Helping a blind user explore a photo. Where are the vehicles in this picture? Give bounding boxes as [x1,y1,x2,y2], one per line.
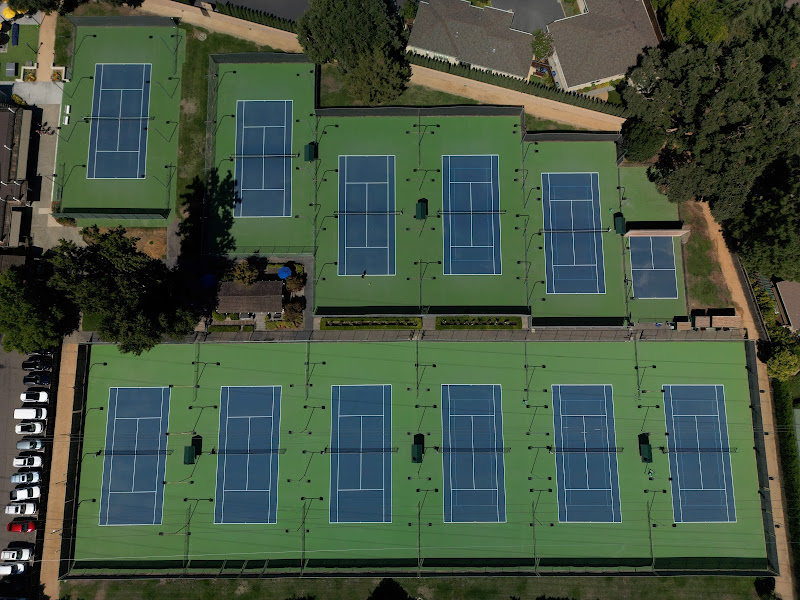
[24,373,52,387]
[11,470,41,484]
[6,501,38,515]
[16,422,45,435]
[13,455,43,469]
[11,406,48,420]
[0,561,27,577]
[1,546,33,562]
[23,359,52,372]
[27,347,54,359]
[9,485,41,500]
[9,519,37,533]
[17,438,45,452]
[21,390,50,403]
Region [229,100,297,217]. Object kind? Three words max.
tennis court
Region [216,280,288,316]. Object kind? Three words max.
building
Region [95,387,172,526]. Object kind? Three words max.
tennis court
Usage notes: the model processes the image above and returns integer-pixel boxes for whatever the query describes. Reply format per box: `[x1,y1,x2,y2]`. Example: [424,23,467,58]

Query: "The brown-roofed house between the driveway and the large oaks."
[545,0,659,94]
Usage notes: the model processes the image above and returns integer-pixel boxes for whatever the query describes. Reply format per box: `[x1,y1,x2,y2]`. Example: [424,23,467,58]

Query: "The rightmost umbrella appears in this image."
[278,266,292,279]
